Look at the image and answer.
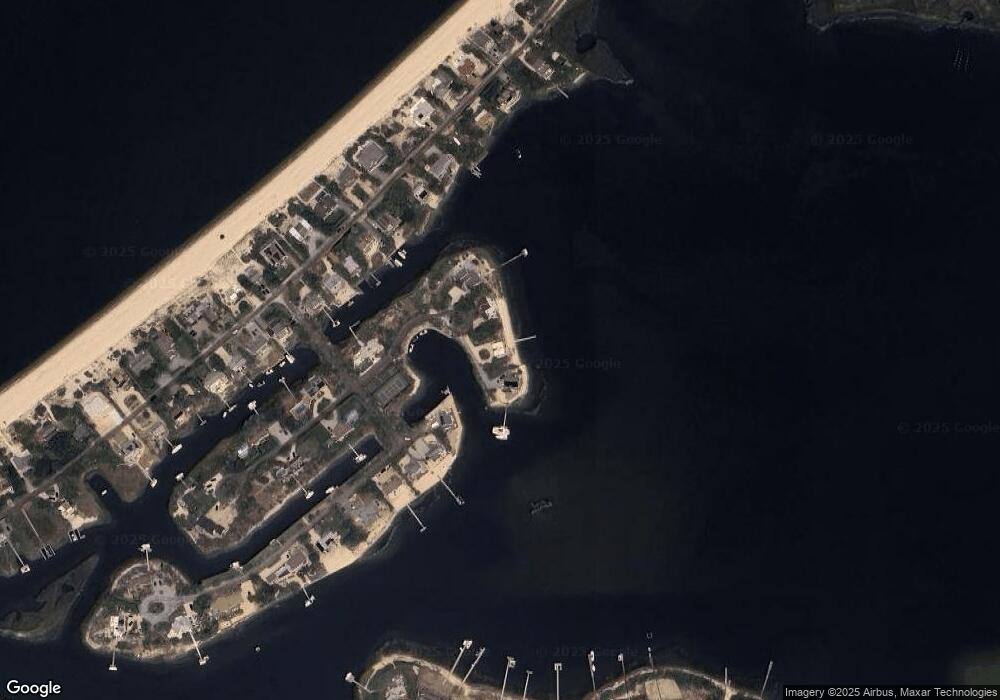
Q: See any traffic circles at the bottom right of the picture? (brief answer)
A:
No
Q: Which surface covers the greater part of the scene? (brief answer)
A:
water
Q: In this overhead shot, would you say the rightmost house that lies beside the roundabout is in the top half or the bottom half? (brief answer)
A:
bottom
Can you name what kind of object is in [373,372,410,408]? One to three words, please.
tennis court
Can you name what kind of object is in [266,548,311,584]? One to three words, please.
house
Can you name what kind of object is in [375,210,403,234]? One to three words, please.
house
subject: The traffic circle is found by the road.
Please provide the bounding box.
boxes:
[140,594,174,624]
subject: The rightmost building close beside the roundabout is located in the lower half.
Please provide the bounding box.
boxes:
[167,612,193,640]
